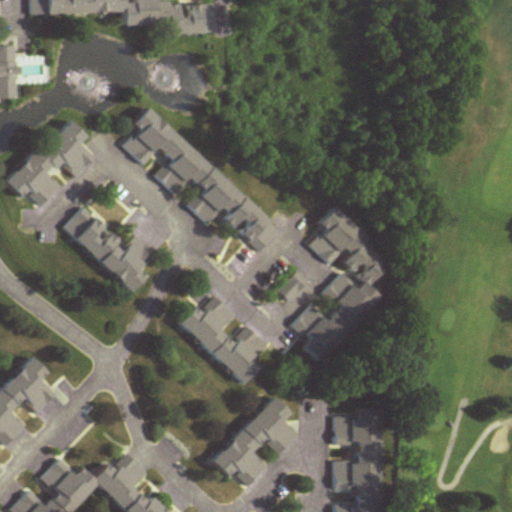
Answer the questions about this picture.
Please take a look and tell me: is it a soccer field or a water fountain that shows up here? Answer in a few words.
water fountain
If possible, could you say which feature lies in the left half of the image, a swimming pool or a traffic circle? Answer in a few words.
swimming pool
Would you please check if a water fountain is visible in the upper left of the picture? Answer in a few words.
Yes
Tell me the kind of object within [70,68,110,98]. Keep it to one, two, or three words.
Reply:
fountain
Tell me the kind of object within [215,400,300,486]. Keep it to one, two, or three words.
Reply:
house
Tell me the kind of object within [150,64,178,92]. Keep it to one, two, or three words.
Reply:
fountain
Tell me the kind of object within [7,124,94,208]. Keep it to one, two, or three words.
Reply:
house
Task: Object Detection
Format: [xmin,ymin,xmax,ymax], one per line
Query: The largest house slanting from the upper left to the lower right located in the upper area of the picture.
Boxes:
[120,108,274,241]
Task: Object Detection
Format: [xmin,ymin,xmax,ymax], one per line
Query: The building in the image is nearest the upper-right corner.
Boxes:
[307,212,383,286]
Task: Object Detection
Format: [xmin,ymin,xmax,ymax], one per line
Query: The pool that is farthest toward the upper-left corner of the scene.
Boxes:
[17,54,49,84]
